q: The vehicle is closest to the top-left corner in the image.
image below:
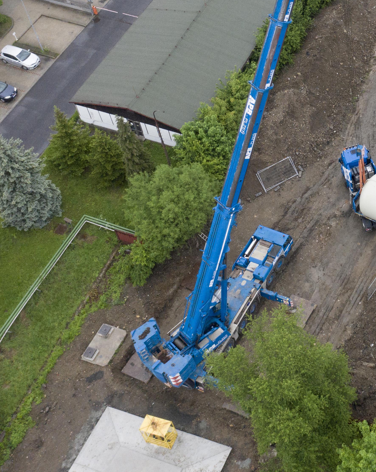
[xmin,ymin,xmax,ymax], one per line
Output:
[0,47,41,71]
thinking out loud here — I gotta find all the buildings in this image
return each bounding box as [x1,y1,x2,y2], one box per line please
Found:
[69,406,232,472]
[66,0,277,145]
